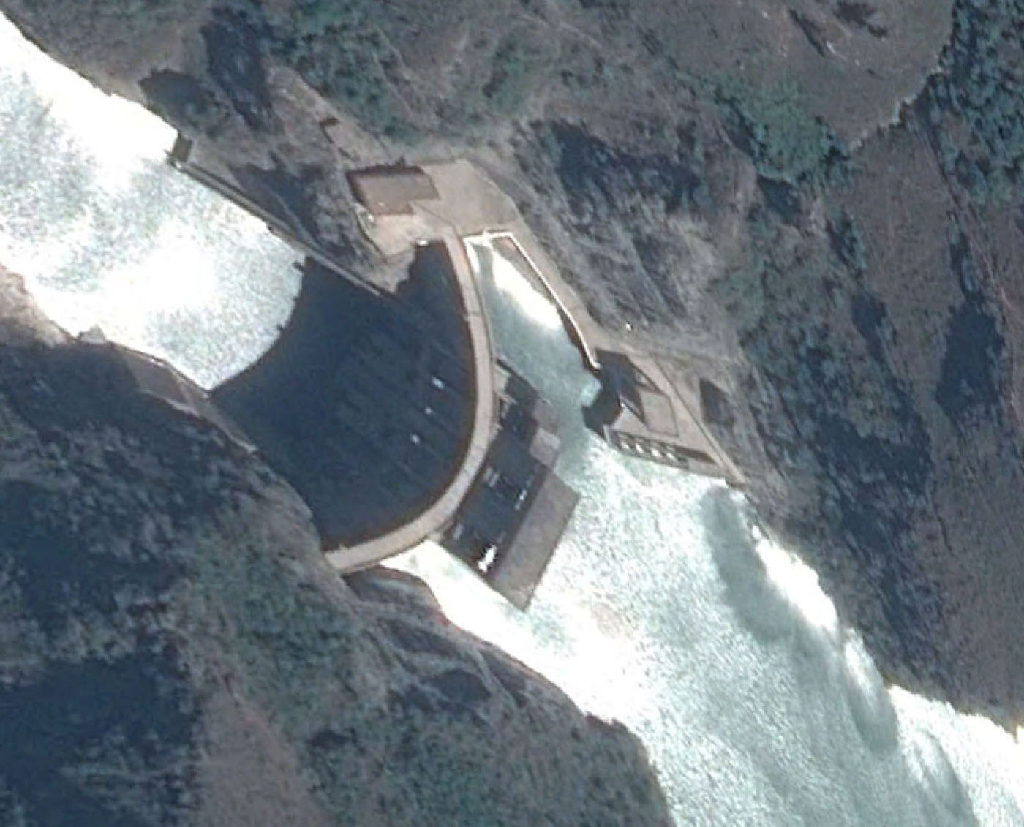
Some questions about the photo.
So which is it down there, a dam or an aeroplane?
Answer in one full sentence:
Of the two, only a dam appears.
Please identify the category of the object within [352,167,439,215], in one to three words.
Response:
building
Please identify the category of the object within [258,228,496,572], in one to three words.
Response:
dam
